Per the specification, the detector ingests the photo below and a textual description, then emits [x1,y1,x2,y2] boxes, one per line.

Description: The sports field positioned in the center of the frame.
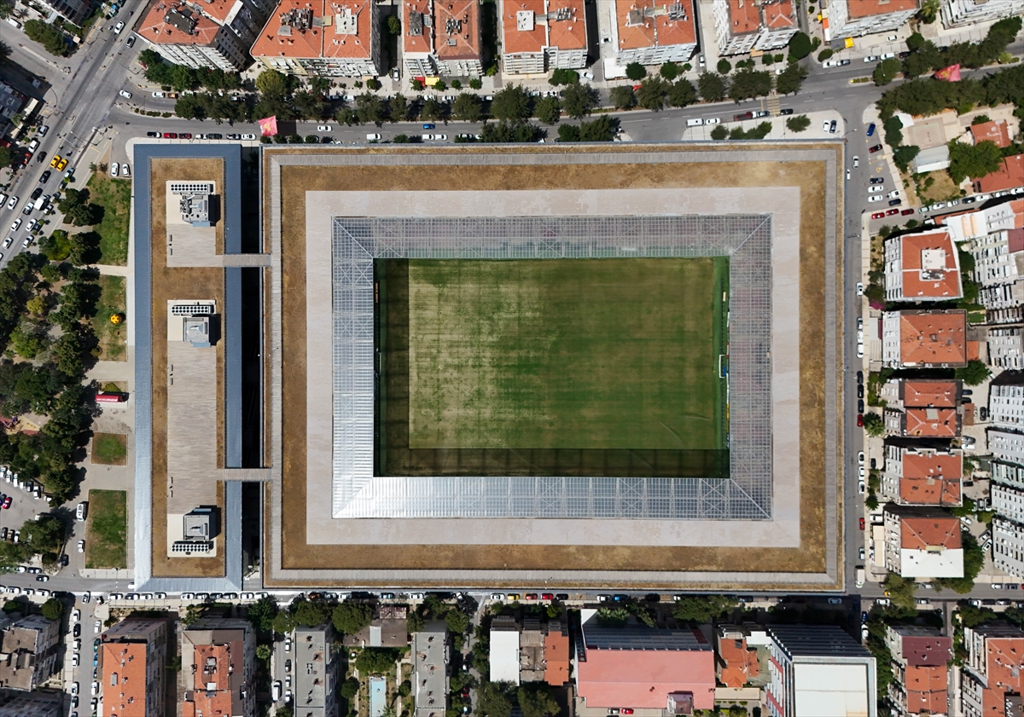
[375,259,729,476]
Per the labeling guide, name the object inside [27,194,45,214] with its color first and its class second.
white vehicle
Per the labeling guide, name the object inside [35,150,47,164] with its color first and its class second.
black vehicle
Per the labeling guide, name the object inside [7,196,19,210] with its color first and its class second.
white vehicle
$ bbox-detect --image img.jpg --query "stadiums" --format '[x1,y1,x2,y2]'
[261,144,845,592]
